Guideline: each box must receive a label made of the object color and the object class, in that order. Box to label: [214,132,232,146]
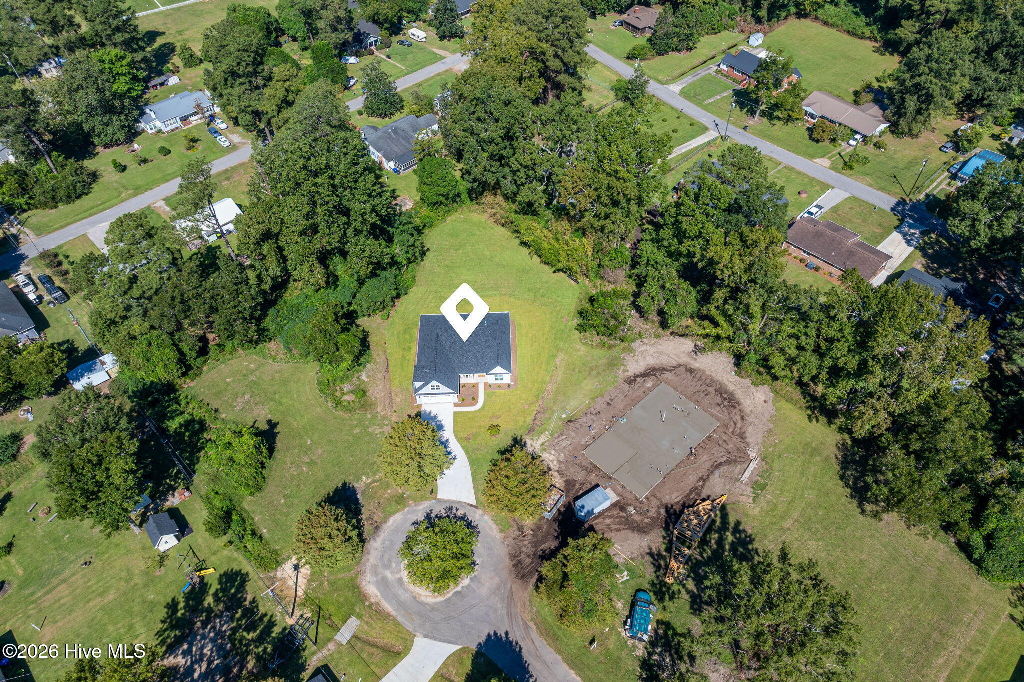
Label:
white car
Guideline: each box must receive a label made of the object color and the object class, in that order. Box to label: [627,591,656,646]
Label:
blue truck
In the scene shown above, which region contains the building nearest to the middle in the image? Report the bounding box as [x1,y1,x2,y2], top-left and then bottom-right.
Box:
[409,312,513,404]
